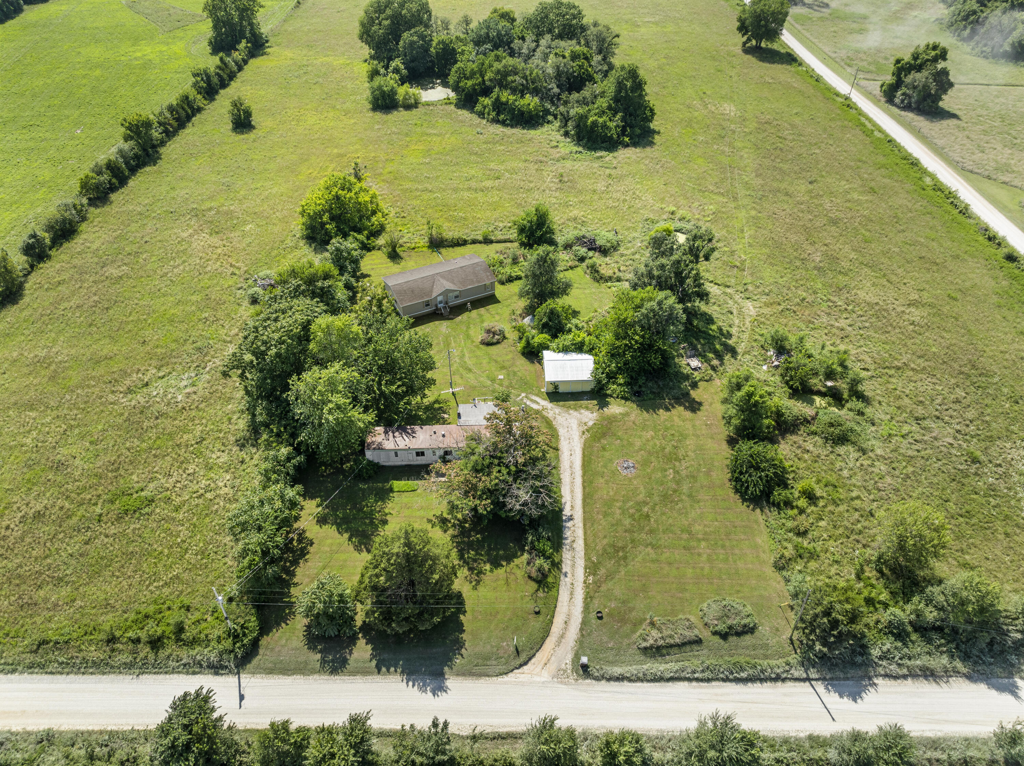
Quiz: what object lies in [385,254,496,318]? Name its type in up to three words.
house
